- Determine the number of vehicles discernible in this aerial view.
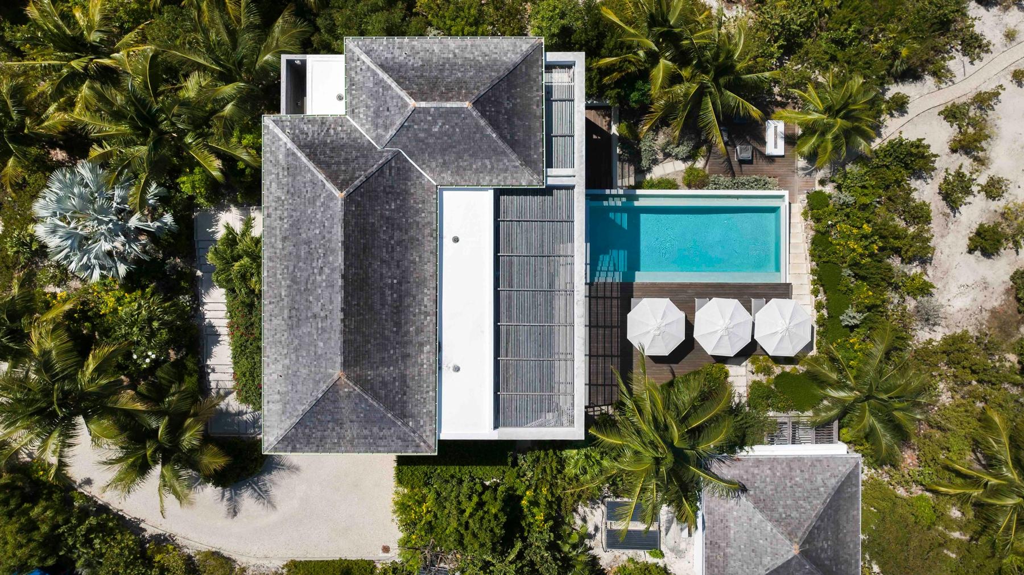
0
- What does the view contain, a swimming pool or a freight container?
swimming pool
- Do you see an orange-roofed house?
No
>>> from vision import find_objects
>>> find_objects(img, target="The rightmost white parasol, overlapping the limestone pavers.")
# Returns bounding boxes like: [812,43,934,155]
[753,298,812,357]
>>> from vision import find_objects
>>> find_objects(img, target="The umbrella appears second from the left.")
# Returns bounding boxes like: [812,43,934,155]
[693,298,753,357]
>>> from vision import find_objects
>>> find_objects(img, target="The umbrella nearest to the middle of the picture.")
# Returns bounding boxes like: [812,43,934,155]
[627,298,685,356]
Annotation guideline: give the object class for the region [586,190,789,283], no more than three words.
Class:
swimming pool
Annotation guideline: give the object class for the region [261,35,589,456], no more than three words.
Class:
house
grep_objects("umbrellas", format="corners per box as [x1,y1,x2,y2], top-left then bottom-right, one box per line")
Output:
[753,298,812,357]
[693,298,753,357]
[627,298,685,356]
